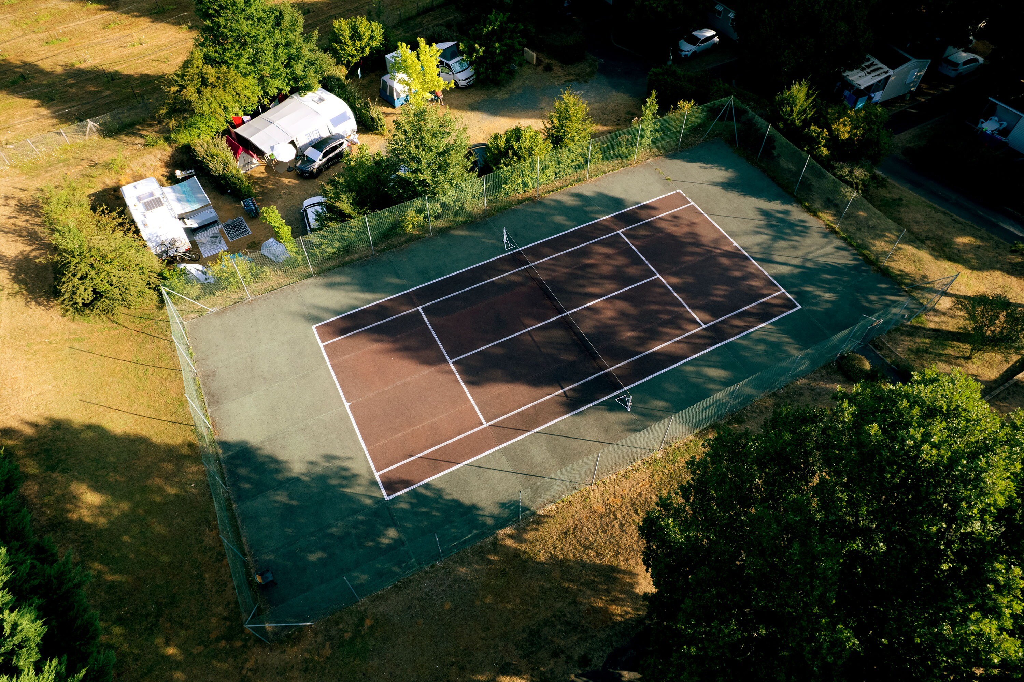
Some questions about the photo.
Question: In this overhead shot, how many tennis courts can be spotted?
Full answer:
I count 1 tennis court.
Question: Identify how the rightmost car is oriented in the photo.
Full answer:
What the image shows is the rightmost car lying from left to right.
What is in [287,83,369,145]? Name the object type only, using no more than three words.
camper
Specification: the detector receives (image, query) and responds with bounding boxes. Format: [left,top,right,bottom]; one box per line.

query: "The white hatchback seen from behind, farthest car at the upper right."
[929,48,992,78]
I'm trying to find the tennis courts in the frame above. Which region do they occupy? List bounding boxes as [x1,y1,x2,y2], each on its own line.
[185,140,932,643]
